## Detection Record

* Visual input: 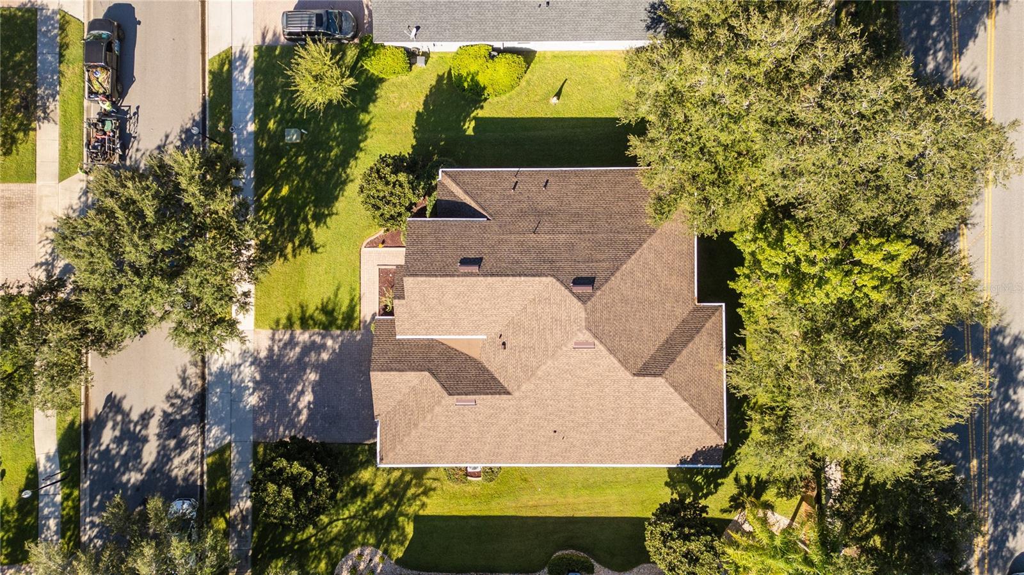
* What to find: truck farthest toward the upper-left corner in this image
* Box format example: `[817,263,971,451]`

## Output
[82,21,124,105]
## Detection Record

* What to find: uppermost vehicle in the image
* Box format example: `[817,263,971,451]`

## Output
[282,8,358,46]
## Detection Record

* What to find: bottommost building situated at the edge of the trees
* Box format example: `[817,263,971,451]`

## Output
[371,166,727,468]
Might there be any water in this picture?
No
